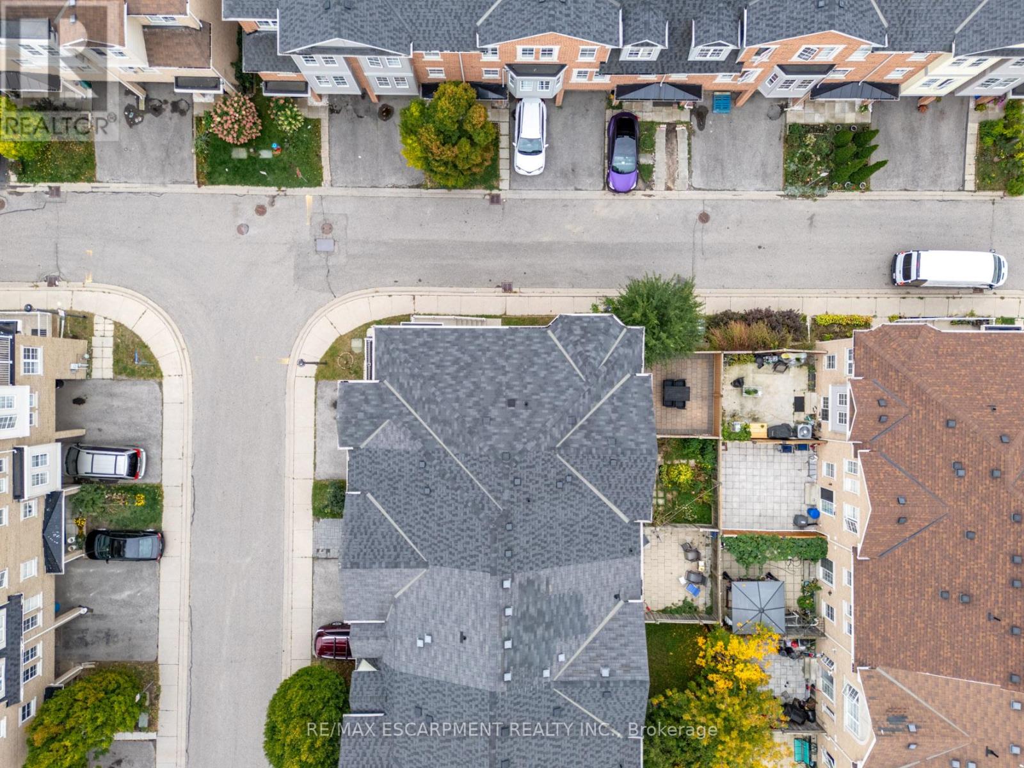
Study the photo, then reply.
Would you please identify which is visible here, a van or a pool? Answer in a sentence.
Visible in the photo is a van.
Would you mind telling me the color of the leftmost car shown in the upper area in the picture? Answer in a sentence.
The leftmost car shown in the upper area looks white in the image.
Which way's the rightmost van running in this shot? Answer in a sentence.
The rightmost van runs horizontally in the image.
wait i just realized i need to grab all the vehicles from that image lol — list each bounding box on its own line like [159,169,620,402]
[898,244,1013,288]
[604,112,643,194]
[82,526,163,565]
[64,441,148,482]
[511,98,550,174]
[316,615,349,654]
